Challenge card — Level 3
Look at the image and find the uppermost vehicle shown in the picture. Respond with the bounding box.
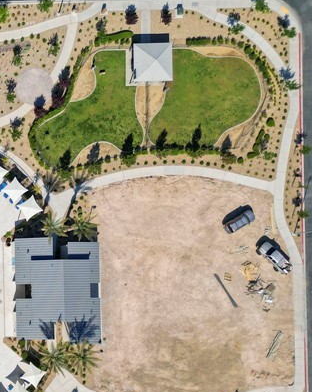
[222,208,256,231]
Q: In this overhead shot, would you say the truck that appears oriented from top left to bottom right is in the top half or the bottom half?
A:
bottom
